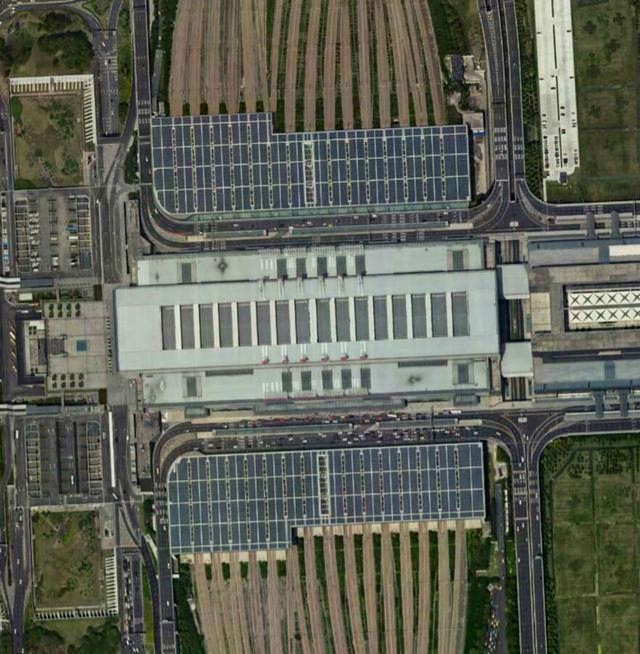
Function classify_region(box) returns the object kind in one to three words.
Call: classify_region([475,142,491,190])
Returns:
shed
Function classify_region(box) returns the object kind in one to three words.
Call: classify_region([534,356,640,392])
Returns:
building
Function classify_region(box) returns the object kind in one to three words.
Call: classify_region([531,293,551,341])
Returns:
building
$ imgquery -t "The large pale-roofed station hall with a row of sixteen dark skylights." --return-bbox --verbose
[113,239,501,406]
